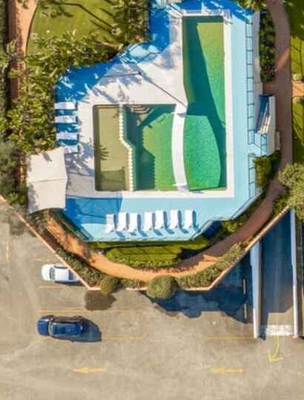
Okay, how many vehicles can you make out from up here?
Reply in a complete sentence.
There are 2 vehicles in the image.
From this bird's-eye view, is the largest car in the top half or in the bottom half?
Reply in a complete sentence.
Seen from above, the largest car lies in the bottom half of the view.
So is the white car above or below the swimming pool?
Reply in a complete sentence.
The white car is found below the swimming pool in the photo.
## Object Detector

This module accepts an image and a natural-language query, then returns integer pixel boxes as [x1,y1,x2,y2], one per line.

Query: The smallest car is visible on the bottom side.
[41,263,79,284]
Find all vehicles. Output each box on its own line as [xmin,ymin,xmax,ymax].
[41,312,89,338]
[41,263,79,284]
